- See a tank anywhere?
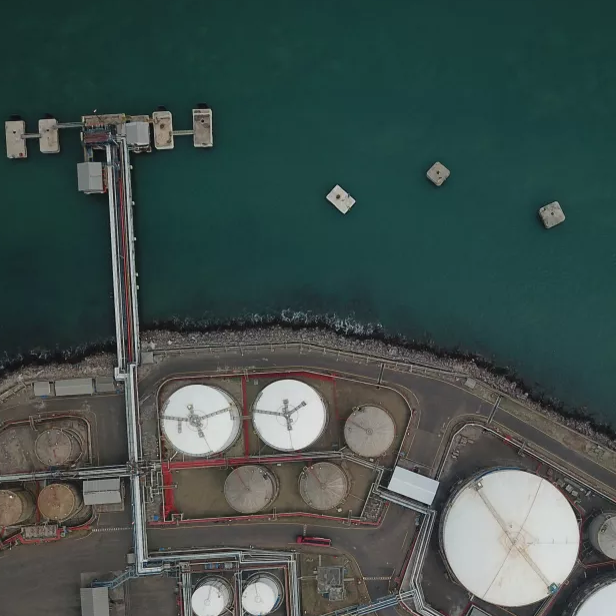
Yes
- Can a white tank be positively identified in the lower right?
Yes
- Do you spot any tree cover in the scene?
No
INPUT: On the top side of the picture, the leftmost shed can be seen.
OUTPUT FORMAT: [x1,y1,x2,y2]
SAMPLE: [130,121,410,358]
[77,162,106,194]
